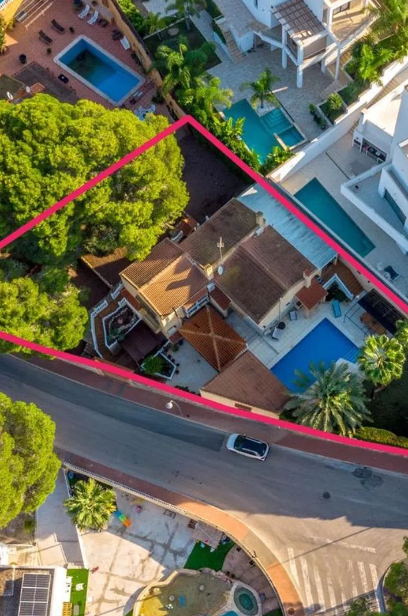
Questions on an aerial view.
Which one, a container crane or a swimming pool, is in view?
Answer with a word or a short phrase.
swimming pool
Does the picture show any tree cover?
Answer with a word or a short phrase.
Yes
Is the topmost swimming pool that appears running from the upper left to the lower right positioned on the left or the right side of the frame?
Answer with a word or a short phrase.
left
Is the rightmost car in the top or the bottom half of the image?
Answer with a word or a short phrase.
bottom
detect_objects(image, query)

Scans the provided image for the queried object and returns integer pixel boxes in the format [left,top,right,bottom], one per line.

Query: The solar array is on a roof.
[17,574,50,616]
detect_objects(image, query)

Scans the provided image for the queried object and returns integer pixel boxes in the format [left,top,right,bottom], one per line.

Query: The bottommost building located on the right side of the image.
[201,350,291,419]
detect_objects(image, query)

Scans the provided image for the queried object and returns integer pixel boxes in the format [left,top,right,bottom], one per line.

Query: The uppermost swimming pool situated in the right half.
[228,97,308,168]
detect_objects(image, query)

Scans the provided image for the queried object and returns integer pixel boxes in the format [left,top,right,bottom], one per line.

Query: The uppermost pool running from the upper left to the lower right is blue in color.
[51,35,147,107]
